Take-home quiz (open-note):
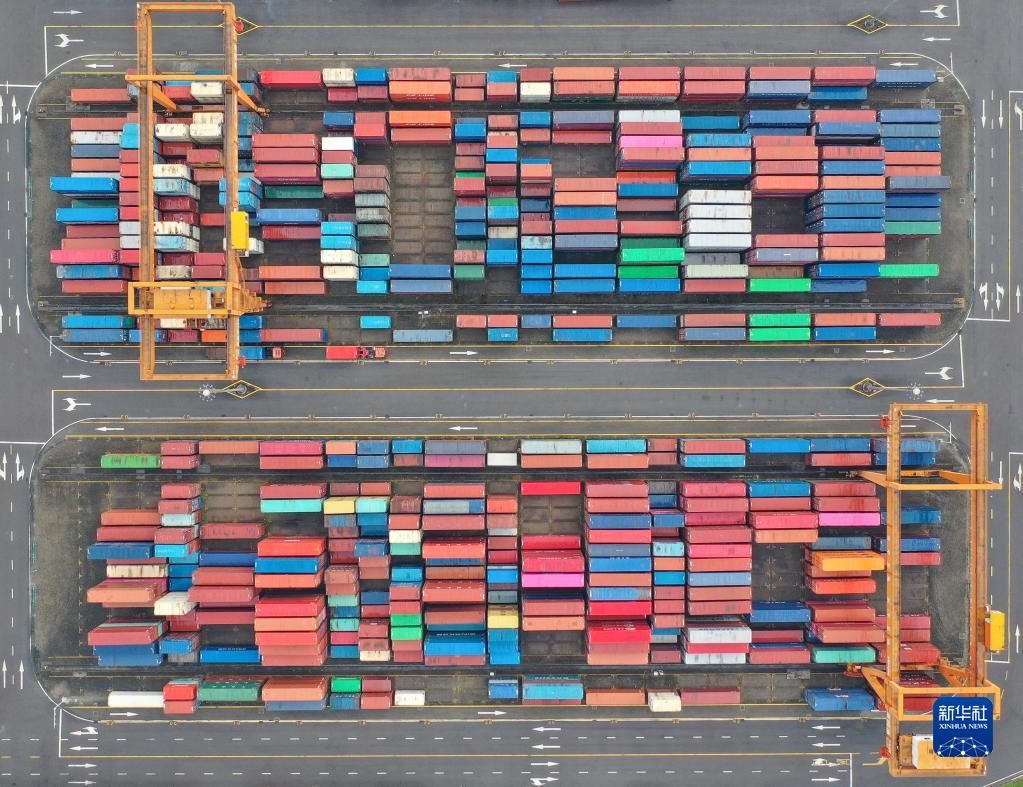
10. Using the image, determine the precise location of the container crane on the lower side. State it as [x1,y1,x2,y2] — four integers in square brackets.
[835,402,1007,779]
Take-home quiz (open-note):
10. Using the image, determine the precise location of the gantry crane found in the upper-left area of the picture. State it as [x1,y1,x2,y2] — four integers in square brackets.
[126,2,273,382]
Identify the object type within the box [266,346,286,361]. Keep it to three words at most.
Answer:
vehicle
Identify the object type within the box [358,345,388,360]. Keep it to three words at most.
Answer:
vehicle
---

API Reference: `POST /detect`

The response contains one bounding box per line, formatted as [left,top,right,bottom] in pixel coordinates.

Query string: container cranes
[835,402,1007,779]
[126,2,273,382]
